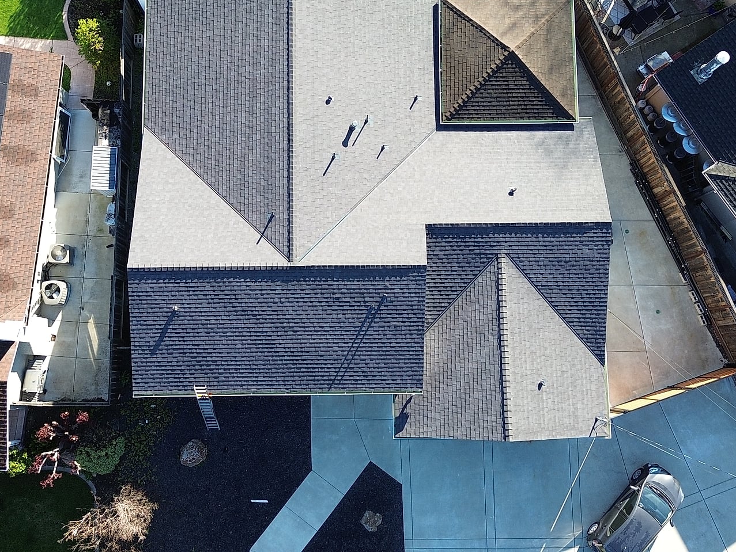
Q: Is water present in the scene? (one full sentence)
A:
No, the picture contains no water.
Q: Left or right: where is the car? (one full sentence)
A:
The car appears in the right half of the scene.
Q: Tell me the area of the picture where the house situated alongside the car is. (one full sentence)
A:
The house situated alongside the car sits in the center section of the image.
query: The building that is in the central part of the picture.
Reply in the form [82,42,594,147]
[125,0,616,440]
